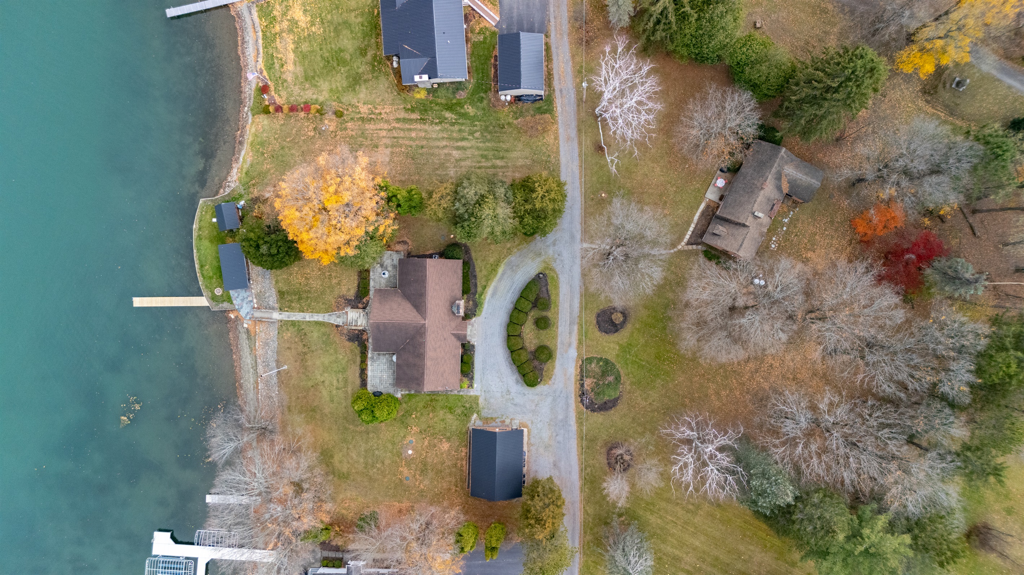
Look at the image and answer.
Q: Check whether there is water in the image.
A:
Yes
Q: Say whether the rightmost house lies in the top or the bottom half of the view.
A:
top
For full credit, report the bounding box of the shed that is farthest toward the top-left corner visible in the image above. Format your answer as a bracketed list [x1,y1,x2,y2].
[214,202,242,232]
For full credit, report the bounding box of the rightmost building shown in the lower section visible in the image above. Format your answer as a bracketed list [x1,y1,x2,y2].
[470,427,524,502]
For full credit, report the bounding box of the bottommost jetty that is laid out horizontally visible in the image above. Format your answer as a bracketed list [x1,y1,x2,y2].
[150,531,285,575]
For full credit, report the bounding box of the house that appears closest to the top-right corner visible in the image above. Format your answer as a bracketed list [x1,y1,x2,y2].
[700,139,824,259]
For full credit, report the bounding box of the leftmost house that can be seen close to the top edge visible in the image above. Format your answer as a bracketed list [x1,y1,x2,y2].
[380,0,468,93]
